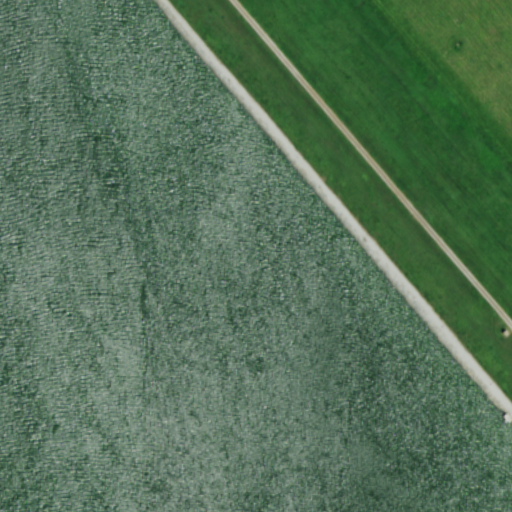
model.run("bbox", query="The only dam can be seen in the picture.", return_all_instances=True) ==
[155,0,512,414]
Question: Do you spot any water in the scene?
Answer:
Yes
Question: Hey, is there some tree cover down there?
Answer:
No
